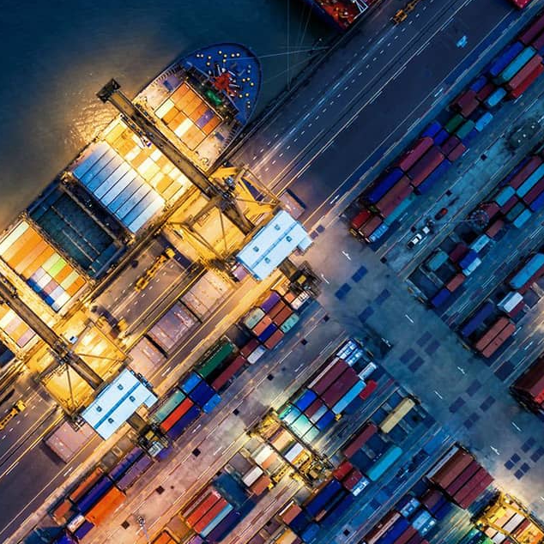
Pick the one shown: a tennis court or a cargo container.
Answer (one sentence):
There is a cargo container in the scene.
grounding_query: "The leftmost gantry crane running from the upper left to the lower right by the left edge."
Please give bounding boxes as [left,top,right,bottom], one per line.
[0,263,157,440]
